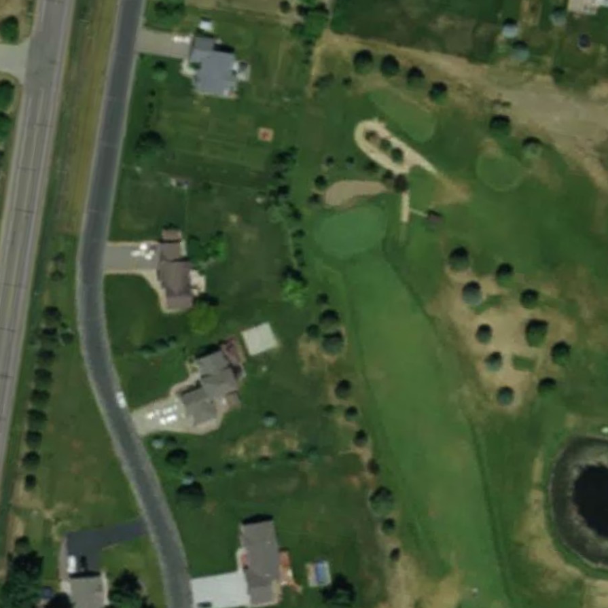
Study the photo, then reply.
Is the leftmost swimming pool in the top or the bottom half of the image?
bottom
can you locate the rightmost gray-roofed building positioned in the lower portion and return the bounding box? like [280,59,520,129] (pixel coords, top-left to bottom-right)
[240,521,292,607]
